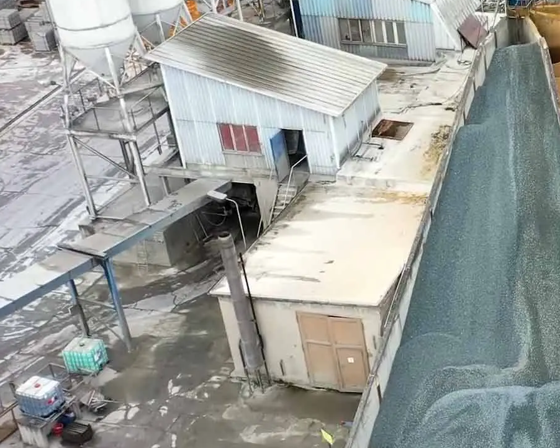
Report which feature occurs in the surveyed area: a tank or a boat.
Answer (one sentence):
Looking from above, you can make out a tank.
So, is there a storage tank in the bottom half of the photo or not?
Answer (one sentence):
Yes, I can see a storage tank in the bottom half of the photo.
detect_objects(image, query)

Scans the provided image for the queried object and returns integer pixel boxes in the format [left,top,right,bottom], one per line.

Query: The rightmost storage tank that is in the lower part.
[59,327,108,377]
